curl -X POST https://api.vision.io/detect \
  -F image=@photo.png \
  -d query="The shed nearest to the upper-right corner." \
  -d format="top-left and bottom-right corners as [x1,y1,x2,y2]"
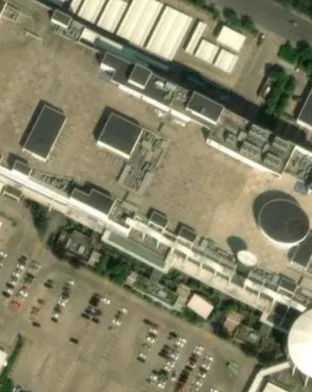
[216,26,246,53]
